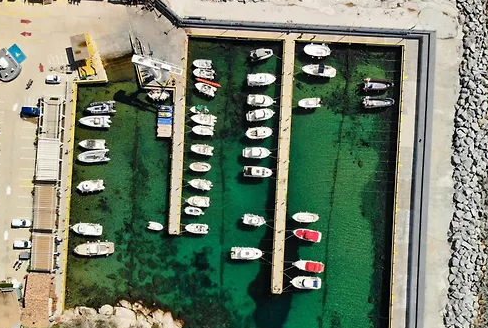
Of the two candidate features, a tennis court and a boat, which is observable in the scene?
boat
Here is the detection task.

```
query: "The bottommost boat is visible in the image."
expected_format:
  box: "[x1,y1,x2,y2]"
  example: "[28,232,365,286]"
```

[283,273,321,290]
